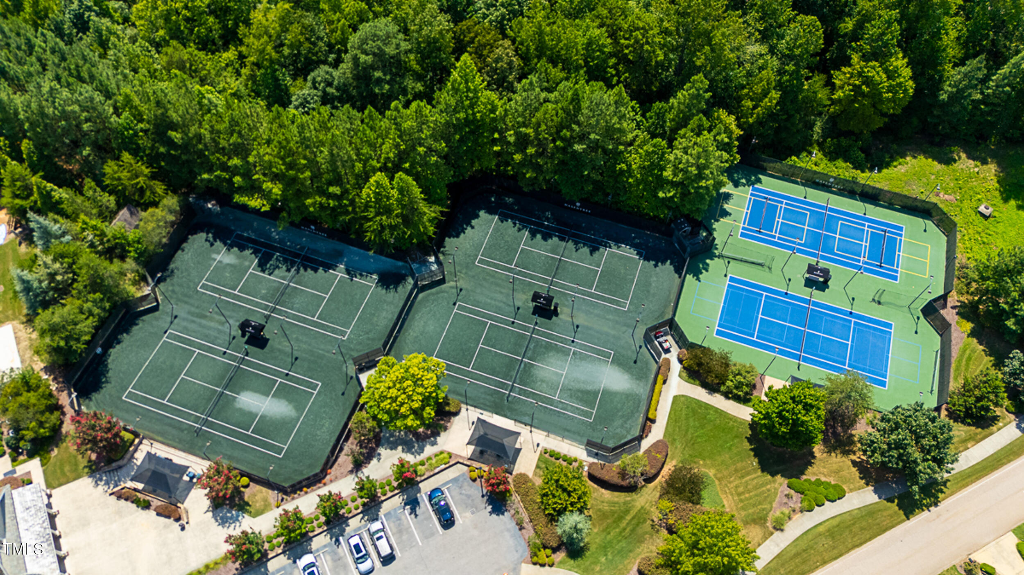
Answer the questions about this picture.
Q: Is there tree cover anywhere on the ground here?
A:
Yes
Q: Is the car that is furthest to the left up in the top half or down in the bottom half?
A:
bottom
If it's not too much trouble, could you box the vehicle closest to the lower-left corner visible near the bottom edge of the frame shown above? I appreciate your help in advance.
[301,554,323,575]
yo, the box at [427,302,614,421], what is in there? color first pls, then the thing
green tennis court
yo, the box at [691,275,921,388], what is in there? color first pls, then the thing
blue tennis court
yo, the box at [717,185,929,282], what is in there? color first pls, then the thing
blue tennis court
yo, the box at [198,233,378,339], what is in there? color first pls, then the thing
green tennis court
